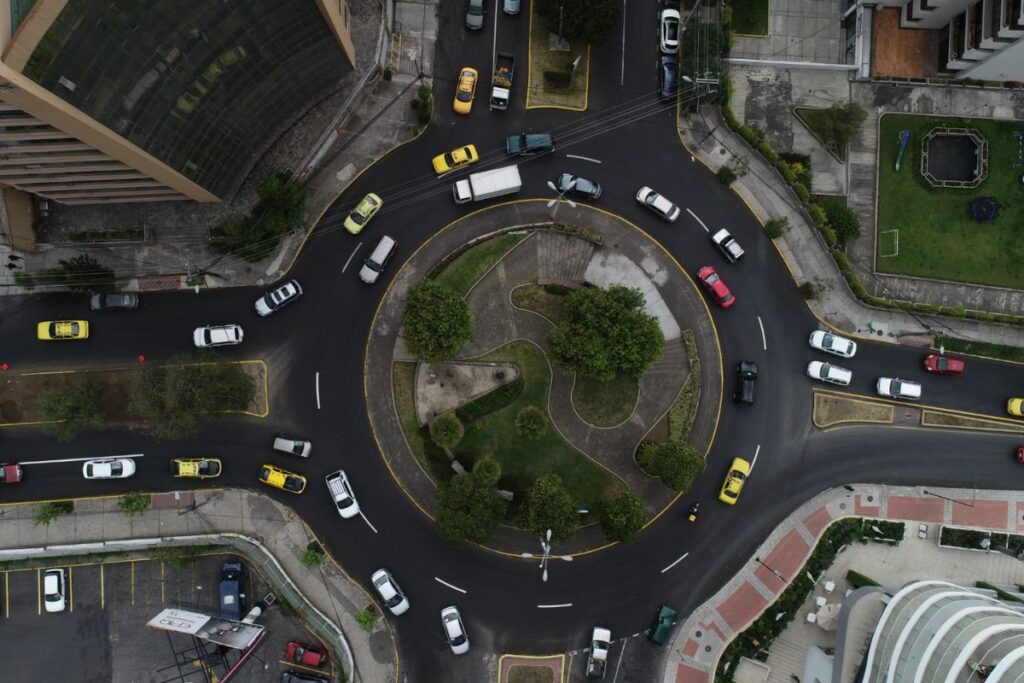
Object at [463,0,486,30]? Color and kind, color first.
gray car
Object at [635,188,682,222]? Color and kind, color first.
white car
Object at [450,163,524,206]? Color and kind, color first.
white truck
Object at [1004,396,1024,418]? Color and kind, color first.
yellow car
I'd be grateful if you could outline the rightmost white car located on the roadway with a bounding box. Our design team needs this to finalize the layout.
[876,375,923,399]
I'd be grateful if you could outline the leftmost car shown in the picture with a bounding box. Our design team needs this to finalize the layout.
[0,462,23,486]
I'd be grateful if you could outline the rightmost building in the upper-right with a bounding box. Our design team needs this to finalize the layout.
[903,0,1024,83]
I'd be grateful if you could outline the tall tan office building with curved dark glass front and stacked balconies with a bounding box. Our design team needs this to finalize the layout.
[0,0,357,203]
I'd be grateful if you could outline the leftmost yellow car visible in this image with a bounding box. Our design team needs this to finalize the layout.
[40,318,90,341]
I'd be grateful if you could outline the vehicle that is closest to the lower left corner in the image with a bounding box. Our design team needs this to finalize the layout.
[42,568,69,611]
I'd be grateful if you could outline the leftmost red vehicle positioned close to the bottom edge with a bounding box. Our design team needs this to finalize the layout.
[285,639,331,670]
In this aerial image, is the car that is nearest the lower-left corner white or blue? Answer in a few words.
white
